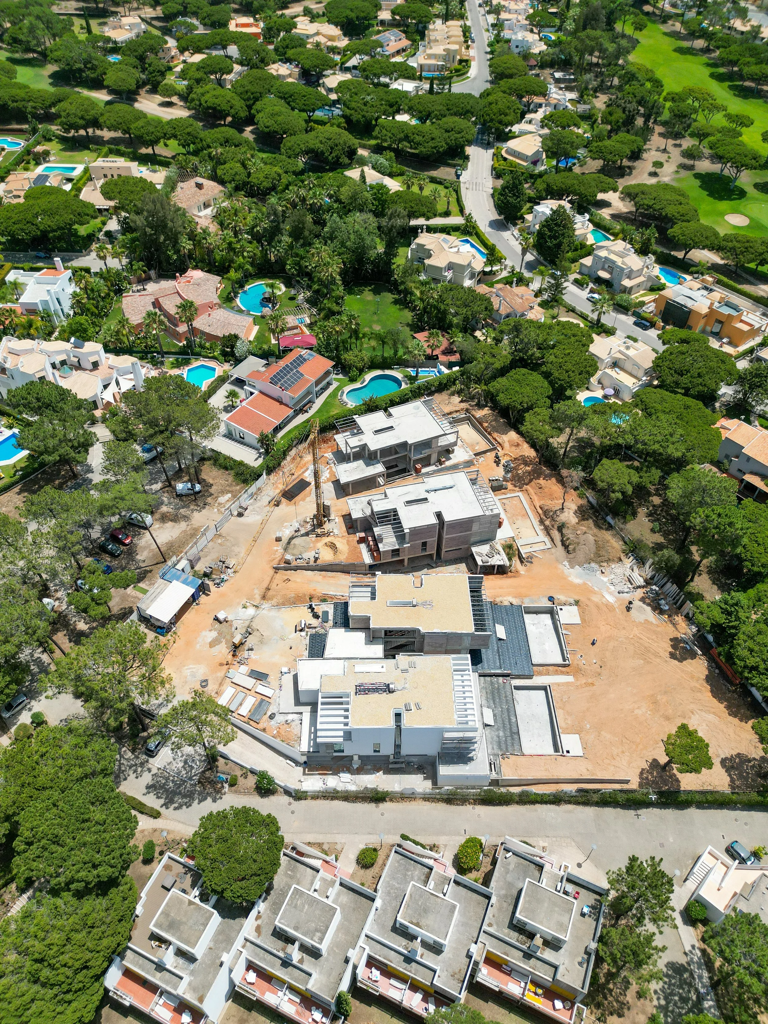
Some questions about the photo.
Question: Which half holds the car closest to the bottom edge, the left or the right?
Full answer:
The car closest to the bottom edge sits on the right side.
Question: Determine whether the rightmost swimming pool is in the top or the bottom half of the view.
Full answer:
The top half of the photo is where the rightmost swimming pool is.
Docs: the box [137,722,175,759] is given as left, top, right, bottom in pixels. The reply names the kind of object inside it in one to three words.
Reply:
car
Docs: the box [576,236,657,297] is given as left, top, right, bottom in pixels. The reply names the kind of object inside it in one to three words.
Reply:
house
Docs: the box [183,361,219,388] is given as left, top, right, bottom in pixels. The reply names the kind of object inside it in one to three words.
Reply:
swimming pool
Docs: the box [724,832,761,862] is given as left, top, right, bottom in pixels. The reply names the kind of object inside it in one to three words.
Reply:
car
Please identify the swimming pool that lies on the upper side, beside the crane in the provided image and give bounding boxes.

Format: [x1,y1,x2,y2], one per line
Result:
[341,371,407,407]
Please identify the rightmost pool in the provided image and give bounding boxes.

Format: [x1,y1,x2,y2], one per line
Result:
[656,265,687,285]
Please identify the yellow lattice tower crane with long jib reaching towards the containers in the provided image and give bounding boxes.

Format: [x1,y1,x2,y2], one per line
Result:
[233,413,336,574]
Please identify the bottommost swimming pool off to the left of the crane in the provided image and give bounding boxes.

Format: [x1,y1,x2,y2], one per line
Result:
[0,430,24,463]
